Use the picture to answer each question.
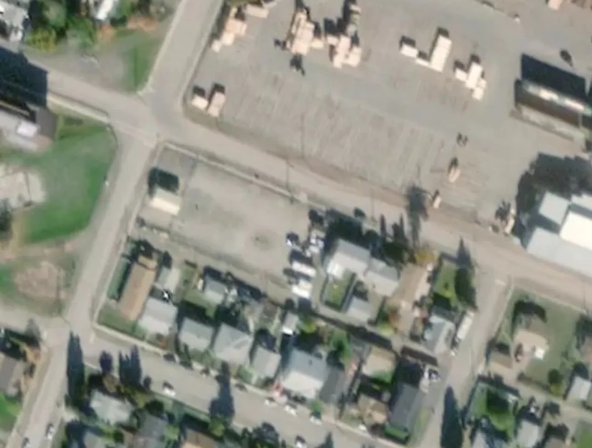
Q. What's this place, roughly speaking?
residential area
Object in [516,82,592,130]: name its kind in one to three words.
shed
